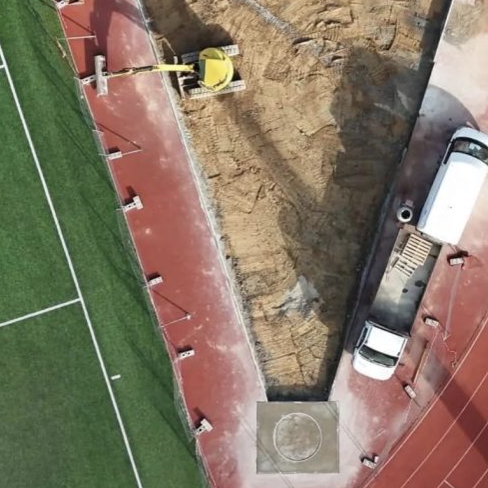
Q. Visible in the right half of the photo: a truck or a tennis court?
truck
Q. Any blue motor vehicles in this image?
No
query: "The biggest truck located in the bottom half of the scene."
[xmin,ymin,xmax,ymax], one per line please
[358,229,445,373]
